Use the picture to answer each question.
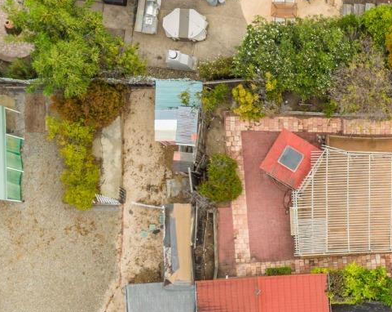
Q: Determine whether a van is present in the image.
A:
No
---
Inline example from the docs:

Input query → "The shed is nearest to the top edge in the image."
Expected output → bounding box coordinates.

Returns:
[155,80,205,146]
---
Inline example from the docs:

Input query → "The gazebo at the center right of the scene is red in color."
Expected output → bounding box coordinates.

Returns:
[259,128,321,190]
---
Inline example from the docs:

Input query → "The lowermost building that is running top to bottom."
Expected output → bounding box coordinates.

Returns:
[164,204,196,282]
